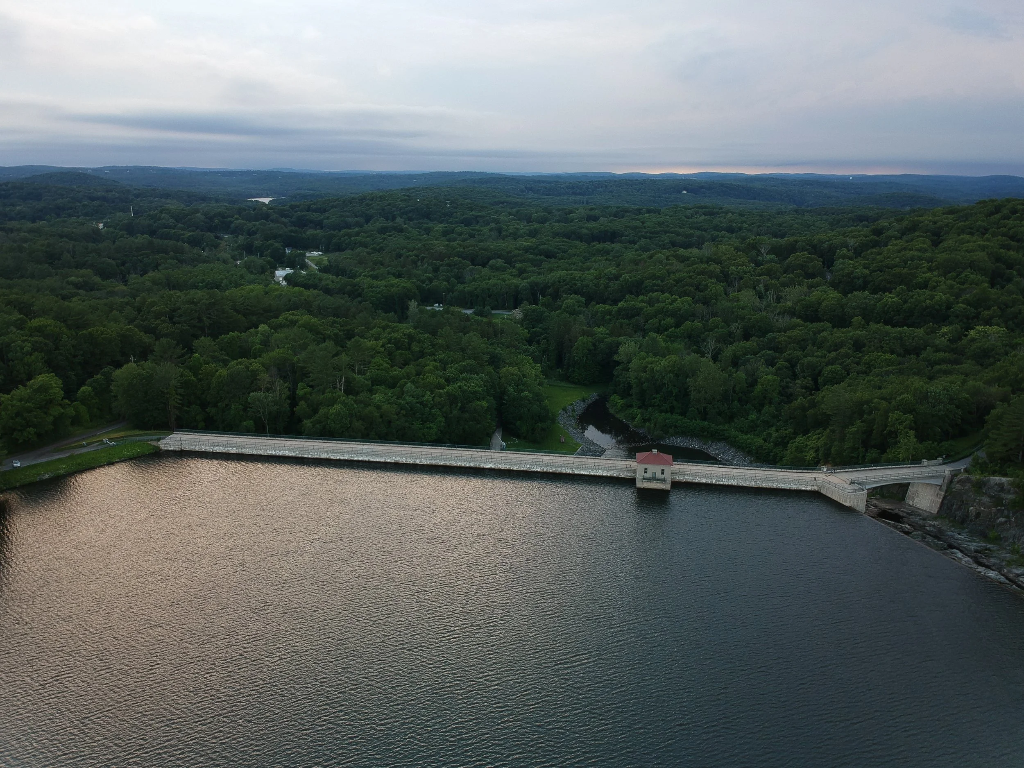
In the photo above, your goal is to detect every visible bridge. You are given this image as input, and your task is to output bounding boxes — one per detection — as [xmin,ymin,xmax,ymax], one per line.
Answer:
[823,457,967,487]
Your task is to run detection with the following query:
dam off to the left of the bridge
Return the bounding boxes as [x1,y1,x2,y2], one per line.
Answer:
[154,432,819,491]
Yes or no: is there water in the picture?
Yes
